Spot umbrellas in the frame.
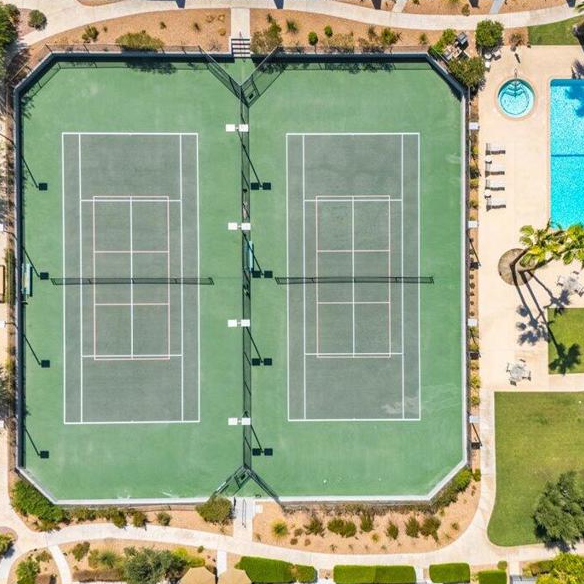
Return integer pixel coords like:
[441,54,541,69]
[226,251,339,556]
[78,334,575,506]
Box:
[181,566,215,584]
[219,567,251,584]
